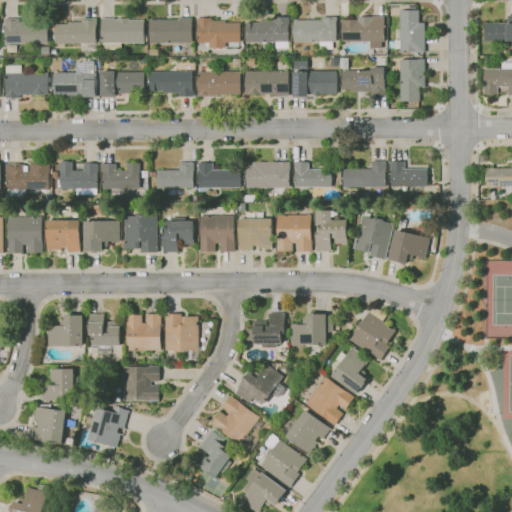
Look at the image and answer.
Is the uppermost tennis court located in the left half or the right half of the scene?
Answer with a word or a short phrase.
right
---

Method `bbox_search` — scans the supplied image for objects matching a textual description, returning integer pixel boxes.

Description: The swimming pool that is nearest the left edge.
[48,348,73,360]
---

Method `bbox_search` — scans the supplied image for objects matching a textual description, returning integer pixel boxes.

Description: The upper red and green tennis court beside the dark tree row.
[486,260,512,338]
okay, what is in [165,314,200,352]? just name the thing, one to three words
house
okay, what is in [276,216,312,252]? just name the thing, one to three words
house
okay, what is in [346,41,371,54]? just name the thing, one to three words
swimming pool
